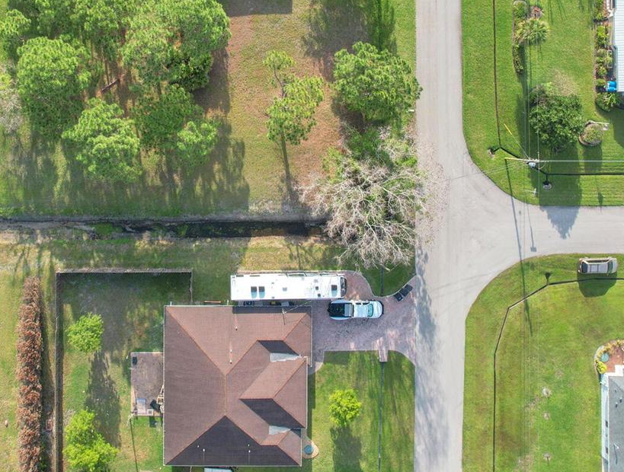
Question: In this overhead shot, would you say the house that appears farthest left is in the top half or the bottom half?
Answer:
bottom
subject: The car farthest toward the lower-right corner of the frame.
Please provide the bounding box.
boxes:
[576,256,614,274]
